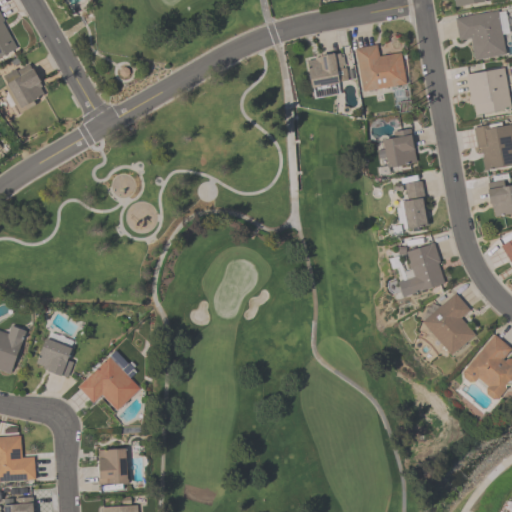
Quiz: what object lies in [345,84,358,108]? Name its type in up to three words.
swimming pool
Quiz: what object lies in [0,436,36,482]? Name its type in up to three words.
house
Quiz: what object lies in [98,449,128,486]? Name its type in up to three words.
house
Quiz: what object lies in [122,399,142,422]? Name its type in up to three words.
swimming pool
